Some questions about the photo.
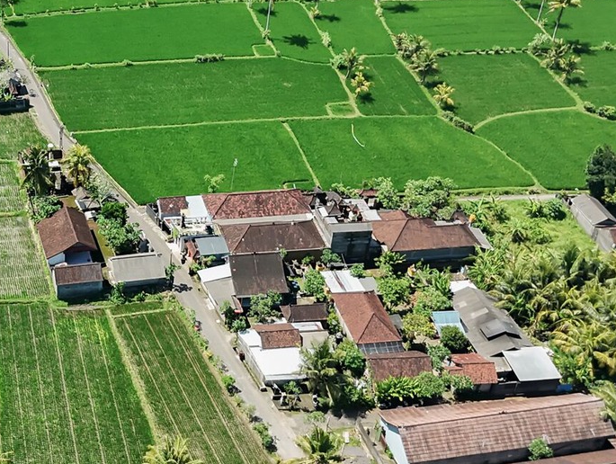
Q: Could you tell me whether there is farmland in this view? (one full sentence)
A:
Yes, there's farmland in this view.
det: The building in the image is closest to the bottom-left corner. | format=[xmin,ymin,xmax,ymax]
[55,262,102,298]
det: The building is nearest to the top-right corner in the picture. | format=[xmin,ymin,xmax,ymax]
[563,192,616,244]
